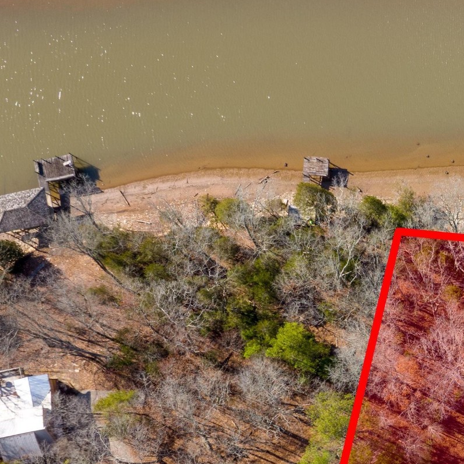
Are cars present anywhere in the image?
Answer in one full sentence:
No, no car is visible in the view.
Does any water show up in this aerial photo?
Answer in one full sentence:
Yes, there's water in this view.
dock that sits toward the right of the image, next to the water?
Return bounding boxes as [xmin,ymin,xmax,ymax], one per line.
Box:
[302,156,332,183]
